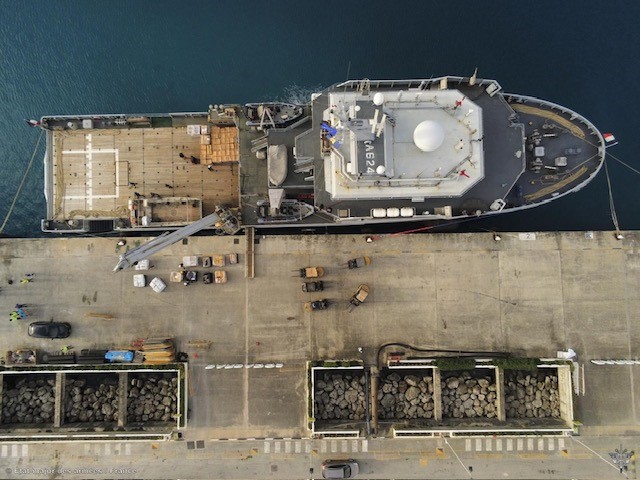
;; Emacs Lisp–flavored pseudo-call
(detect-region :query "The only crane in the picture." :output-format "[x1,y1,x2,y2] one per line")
[114,198,251,272]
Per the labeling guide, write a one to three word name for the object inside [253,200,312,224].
boat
